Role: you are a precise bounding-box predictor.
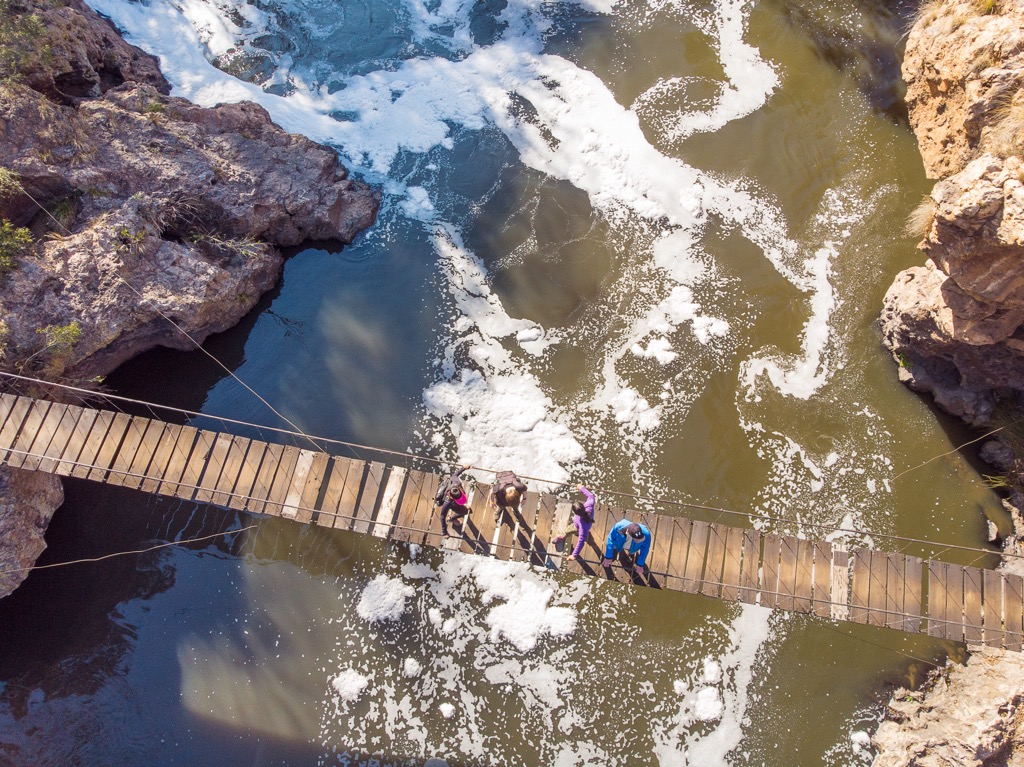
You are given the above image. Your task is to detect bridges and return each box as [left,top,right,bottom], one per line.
[0,372,1024,655]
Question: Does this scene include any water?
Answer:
Yes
